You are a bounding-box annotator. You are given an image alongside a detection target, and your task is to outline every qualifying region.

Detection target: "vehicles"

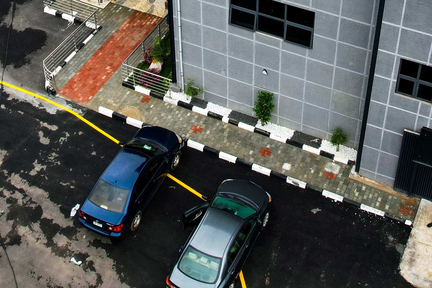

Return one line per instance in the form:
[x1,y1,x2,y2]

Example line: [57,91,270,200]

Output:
[163,178,273,288]
[72,121,184,248]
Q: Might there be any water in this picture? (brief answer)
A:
No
